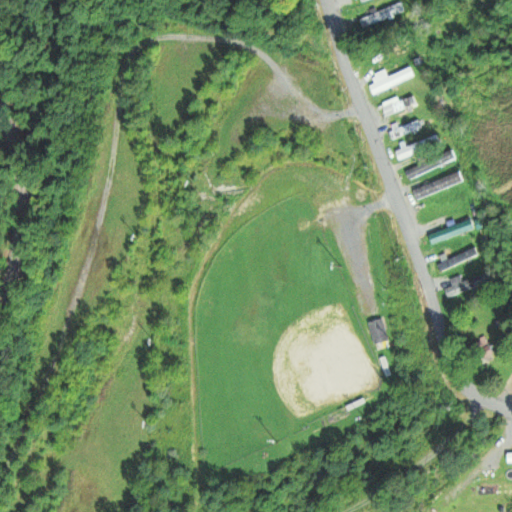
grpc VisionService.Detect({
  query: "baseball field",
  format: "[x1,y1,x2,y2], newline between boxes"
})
[196,193,384,474]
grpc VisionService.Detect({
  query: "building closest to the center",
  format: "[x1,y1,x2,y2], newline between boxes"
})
[368,319,390,351]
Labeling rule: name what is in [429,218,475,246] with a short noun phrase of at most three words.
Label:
house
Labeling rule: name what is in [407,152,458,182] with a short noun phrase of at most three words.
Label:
house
